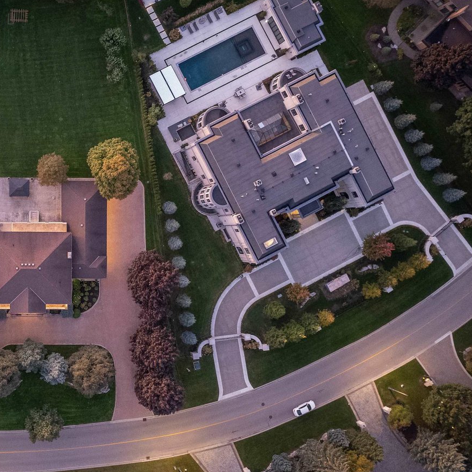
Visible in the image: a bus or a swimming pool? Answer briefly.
swimming pool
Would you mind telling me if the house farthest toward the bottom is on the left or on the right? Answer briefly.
left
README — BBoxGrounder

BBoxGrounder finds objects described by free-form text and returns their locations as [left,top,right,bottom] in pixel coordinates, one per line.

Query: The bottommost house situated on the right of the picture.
[174,64,394,264]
